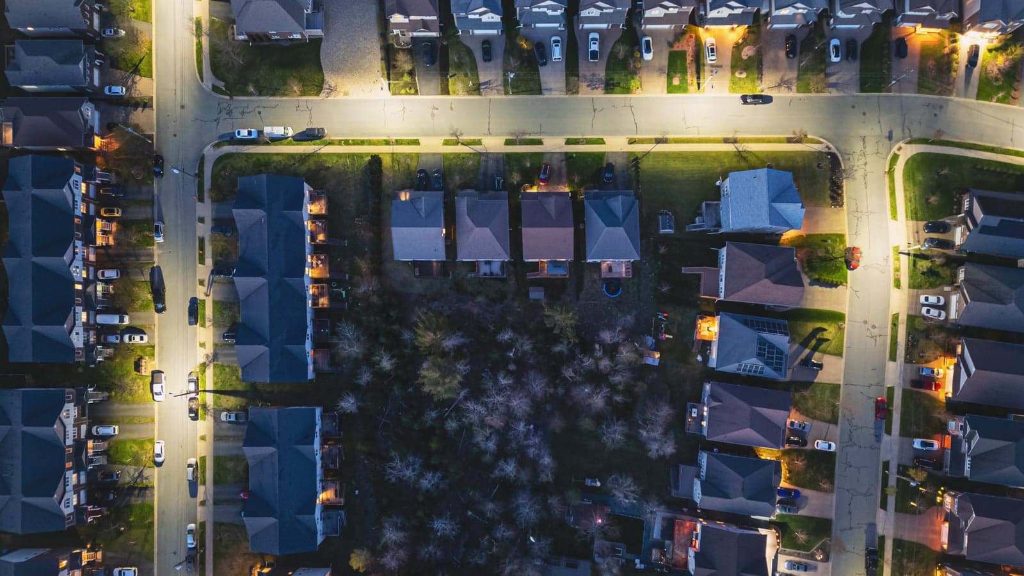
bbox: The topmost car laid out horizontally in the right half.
[740,93,767,106]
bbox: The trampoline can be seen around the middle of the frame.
[603,278,622,298]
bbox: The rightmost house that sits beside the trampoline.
[583,190,640,277]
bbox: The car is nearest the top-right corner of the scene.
[965,44,981,70]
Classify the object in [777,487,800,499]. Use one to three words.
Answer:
vehicle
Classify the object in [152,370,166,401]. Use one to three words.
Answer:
vehicle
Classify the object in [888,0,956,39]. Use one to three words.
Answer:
house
